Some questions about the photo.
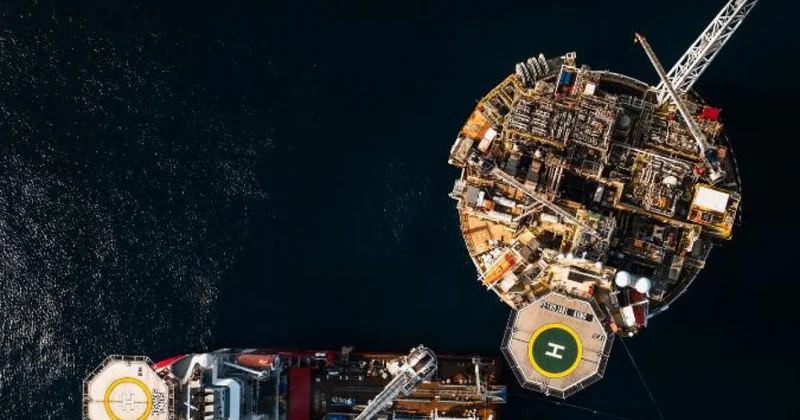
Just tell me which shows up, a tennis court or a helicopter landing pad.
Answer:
helicopter landing pad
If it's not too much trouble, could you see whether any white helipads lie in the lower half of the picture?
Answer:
Yes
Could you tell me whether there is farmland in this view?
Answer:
No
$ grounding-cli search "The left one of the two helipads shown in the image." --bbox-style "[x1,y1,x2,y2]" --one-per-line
[82,355,175,420]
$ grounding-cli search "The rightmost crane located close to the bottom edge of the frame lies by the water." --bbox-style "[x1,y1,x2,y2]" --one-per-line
[348,343,434,420]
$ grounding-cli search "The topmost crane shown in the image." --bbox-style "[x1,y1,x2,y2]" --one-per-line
[628,30,727,184]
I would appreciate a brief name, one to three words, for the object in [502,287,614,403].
helipad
